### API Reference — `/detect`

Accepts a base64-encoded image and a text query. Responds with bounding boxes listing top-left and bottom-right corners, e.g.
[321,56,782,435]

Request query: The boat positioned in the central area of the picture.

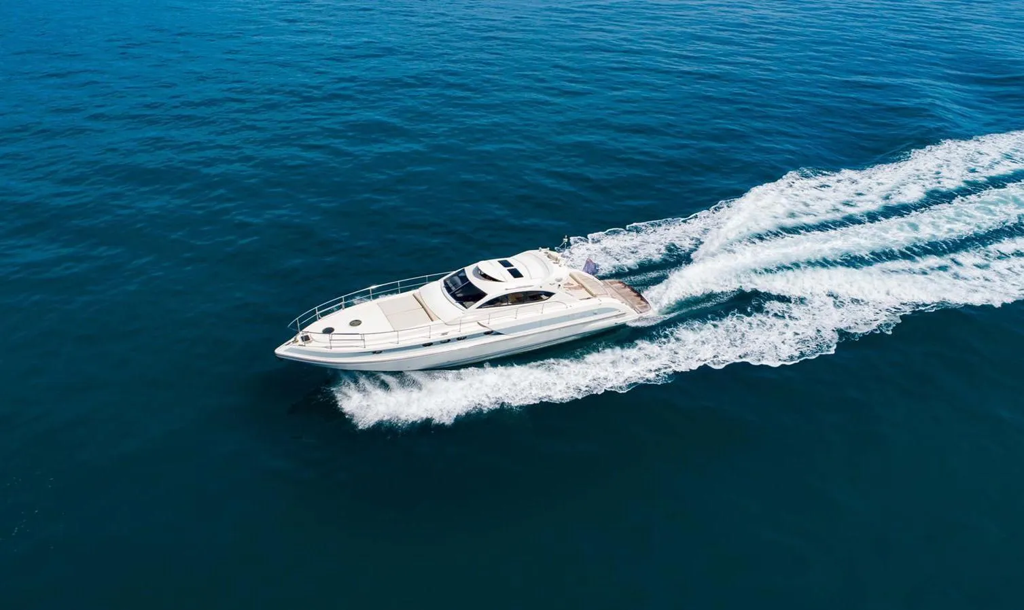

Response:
[272,233,650,372]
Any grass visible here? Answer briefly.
No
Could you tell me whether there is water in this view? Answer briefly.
Yes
